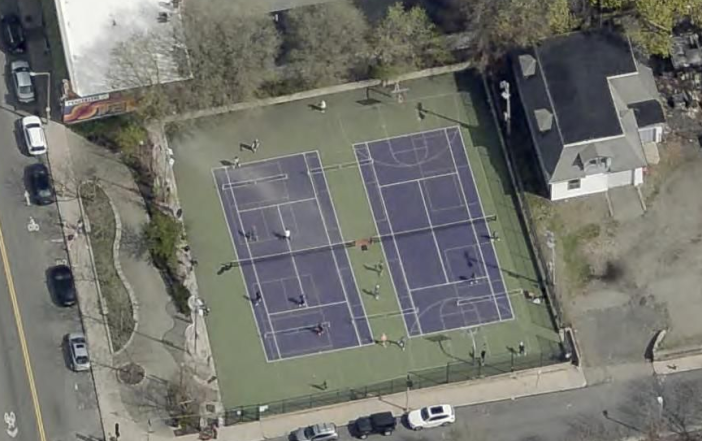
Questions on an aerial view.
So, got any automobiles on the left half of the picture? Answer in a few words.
Yes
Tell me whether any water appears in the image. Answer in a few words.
No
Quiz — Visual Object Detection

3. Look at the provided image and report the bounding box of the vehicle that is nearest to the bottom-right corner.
[407,405,457,432]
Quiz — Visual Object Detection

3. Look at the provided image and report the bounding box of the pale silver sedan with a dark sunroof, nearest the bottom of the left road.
[66,333,90,374]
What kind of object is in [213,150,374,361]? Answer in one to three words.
tennis court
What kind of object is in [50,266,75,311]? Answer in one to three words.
car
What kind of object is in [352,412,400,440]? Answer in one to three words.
car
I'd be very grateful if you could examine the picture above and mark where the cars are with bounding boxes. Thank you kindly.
[352,412,400,440]
[23,117,47,158]
[293,421,342,441]
[66,333,90,374]
[29,165,53,208]
[12,63,36,106]
[407,405,457,432]
[50,266,75,311]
